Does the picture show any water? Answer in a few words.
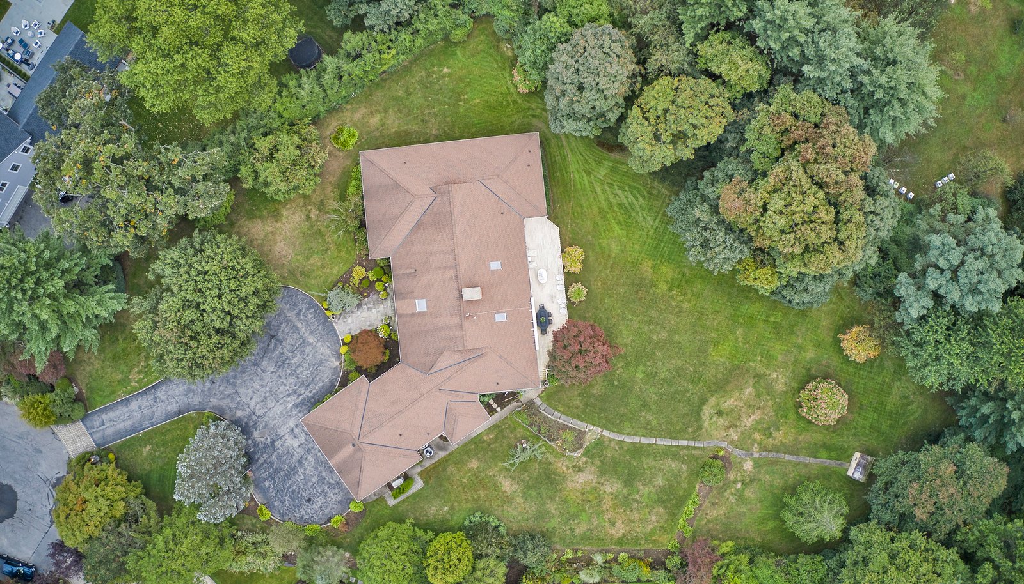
No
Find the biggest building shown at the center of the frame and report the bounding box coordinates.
[299,131,548,503]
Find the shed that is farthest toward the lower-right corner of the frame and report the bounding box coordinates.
[847,452,874,483]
